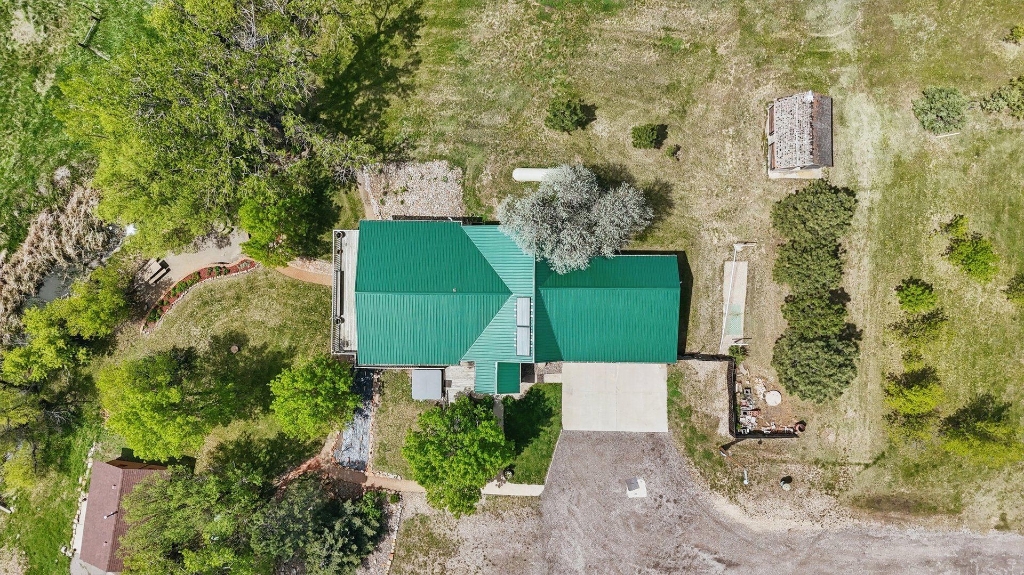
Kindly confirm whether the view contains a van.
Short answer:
No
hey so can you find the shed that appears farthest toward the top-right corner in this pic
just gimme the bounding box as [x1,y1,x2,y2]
[764,91,833,178]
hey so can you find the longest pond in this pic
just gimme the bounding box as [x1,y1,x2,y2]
[7,224,139,388]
